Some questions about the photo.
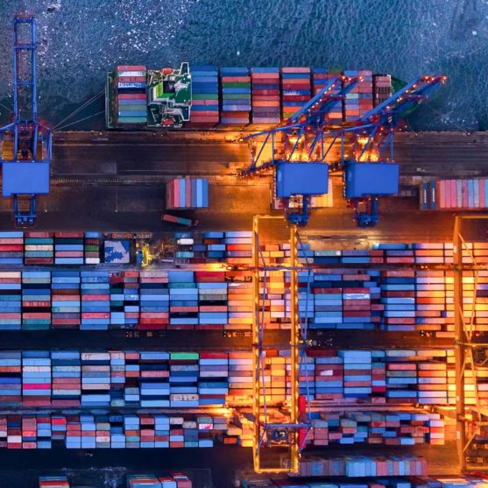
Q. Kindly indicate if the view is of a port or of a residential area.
port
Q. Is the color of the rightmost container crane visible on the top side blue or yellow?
blue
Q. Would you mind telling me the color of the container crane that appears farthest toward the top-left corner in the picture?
blue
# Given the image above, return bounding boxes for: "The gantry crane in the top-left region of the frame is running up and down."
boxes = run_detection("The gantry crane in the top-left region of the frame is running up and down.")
[0,17,52,235]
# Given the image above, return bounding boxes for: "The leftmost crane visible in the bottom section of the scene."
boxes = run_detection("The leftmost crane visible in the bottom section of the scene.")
[229,217,314,475]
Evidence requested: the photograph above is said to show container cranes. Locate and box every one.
[421,217,488,475]
[0,17,52,235]
[229,217,314,475]
[233,75,366,235]
[300,75,447,235]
